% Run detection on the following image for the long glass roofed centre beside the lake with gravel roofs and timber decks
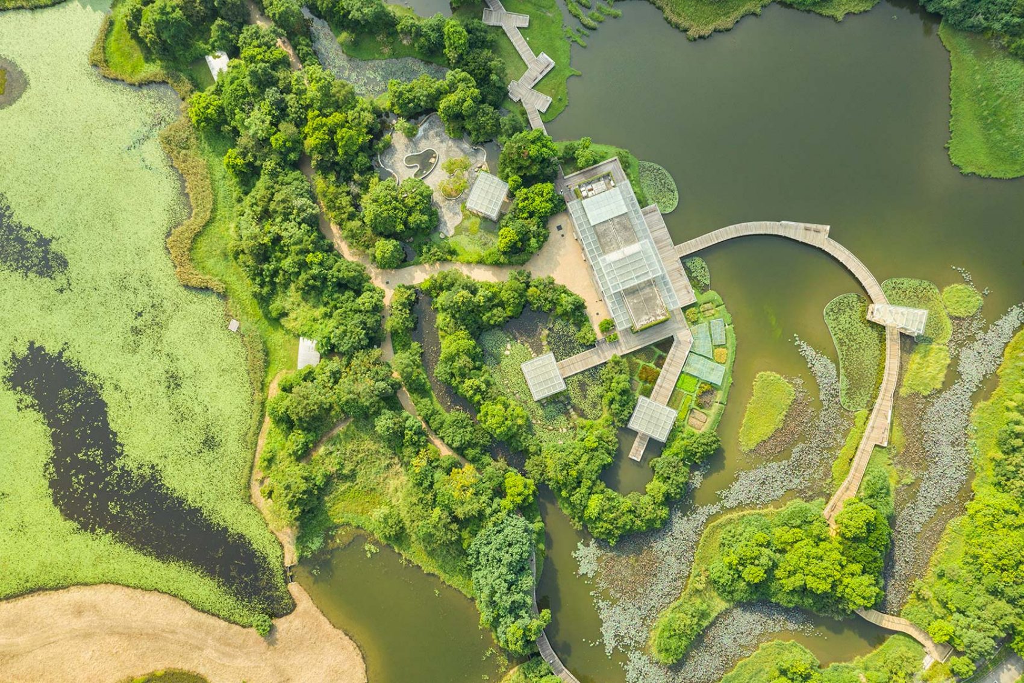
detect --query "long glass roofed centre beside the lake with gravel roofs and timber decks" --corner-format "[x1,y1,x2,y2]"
[556,157,698,407]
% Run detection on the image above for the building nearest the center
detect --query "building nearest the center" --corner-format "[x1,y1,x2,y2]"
[521,352,566,401]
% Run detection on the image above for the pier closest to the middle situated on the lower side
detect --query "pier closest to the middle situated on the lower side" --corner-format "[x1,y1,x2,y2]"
[628,430,652,462]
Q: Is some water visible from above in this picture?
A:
Yes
